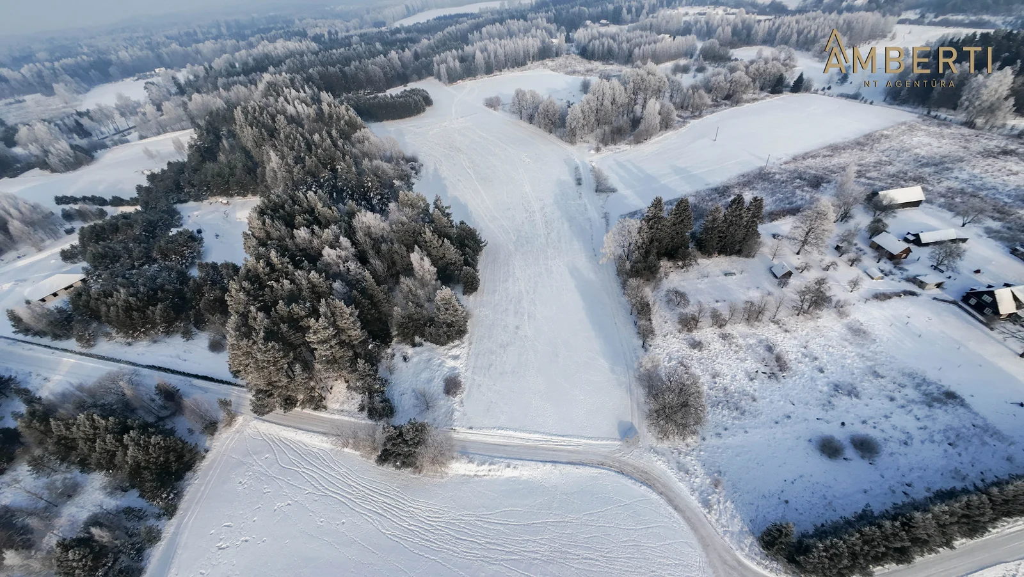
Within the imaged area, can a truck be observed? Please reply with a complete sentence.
No, the photo shows no truck.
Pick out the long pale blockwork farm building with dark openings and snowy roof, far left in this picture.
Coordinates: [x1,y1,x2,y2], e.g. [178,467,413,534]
[26,272,90,308]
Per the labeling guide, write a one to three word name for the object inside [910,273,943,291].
shed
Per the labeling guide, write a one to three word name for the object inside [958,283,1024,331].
house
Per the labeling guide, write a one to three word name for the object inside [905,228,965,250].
shed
